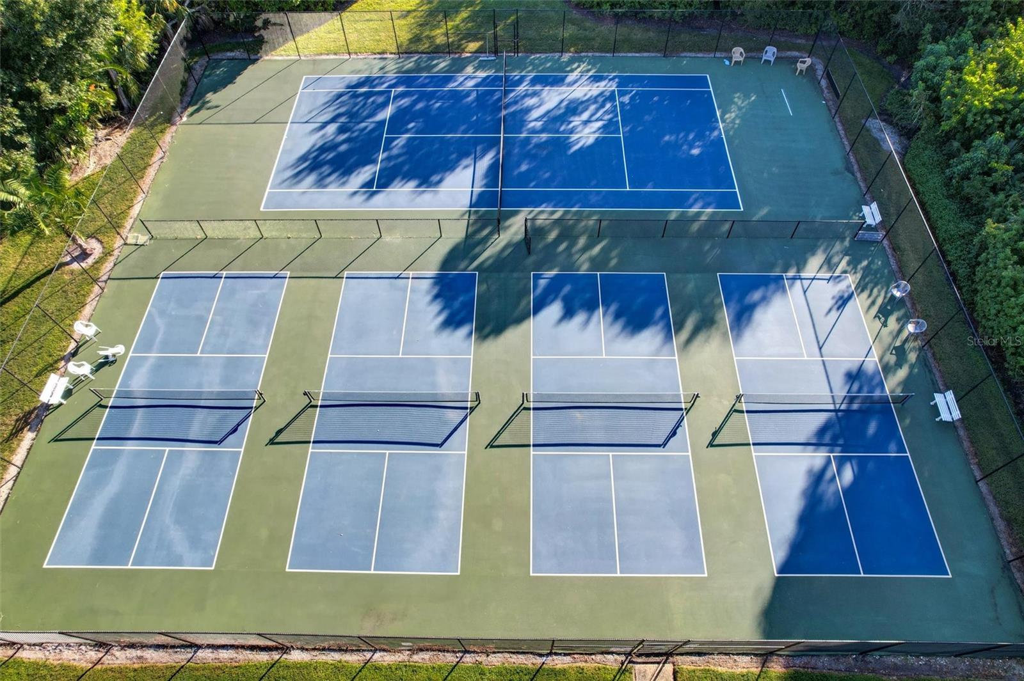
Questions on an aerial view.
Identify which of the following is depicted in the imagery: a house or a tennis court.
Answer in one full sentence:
Of the two, only a tennis court appears.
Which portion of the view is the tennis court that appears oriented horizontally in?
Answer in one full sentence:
The tennis court that appears oriented horizontally appears toward the top of the photo.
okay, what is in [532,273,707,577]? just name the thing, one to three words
sports court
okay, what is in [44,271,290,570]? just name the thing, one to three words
sports court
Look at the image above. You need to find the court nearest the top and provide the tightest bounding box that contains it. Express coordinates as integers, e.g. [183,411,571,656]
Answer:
[263,73,741,211]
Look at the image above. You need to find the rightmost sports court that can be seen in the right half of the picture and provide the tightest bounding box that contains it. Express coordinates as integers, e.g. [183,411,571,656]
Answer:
[716,273,952,578]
